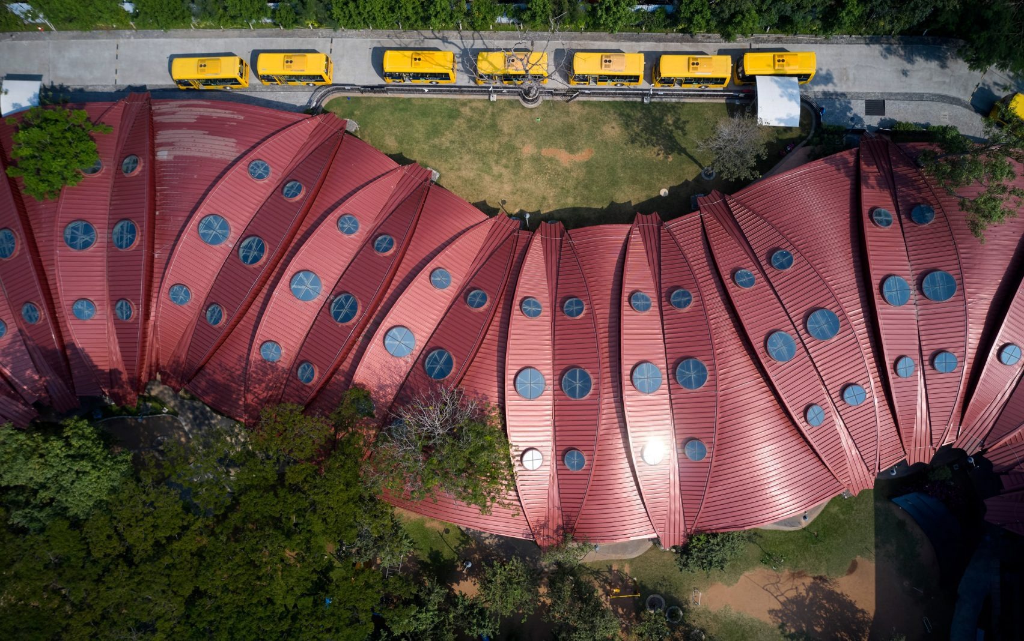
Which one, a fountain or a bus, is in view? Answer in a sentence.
The image shows a bus.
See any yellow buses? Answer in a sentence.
Yes, a yellow bus can be made out from above.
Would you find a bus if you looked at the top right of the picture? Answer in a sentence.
Yes, you'll find a bus at the top right of the picture.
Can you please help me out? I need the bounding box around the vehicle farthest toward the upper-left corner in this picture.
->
[170,56,255,92]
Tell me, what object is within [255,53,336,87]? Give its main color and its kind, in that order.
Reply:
yellow bus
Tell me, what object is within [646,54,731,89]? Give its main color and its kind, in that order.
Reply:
yellow bus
